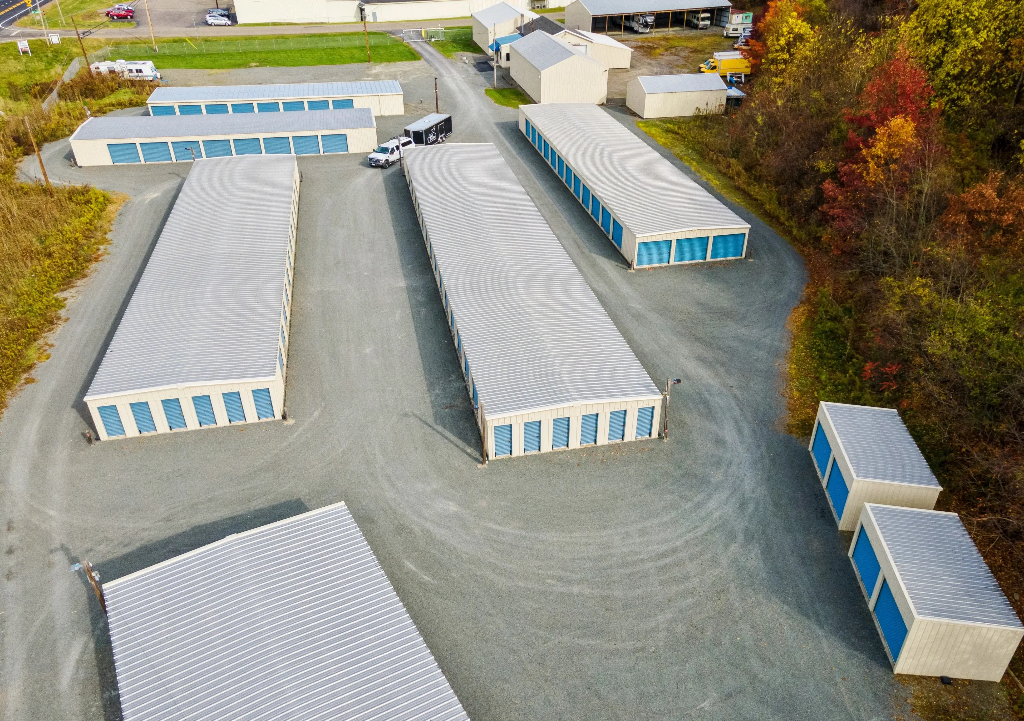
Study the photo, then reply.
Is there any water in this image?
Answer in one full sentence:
No, the scene doesn't show any water.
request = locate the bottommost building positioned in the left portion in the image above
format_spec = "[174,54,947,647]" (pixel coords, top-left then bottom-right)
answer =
[100,499,457,721]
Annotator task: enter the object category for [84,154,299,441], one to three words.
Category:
building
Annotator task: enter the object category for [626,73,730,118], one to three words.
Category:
barn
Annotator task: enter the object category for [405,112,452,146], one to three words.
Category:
trailer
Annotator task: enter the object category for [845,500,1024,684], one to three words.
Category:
shed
